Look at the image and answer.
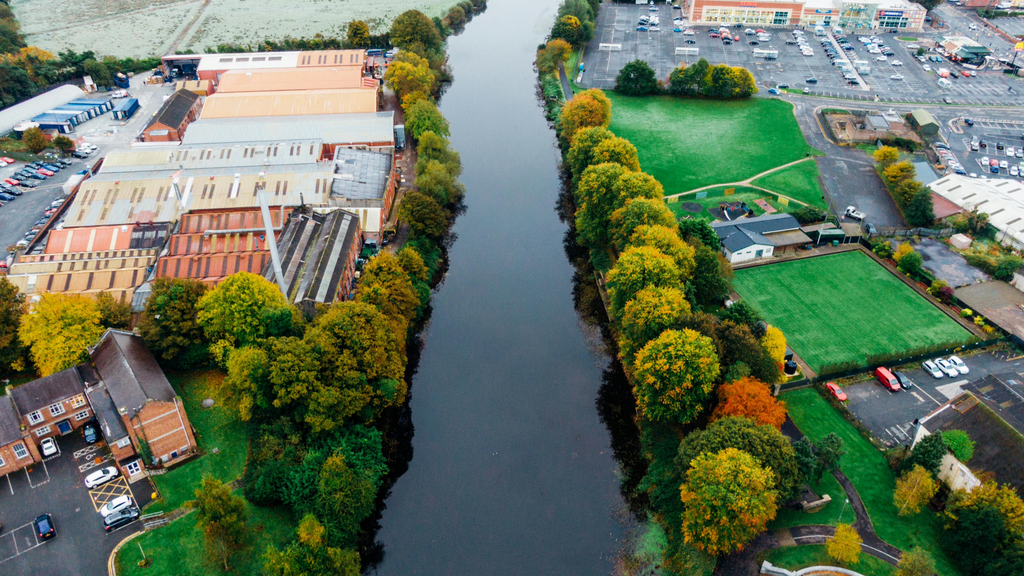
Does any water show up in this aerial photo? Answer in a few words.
Yes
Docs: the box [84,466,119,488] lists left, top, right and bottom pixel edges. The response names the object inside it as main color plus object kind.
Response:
white car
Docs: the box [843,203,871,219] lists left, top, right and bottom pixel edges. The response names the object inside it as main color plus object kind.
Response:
white vehicle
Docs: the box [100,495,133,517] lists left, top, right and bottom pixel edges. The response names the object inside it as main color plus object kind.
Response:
white car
